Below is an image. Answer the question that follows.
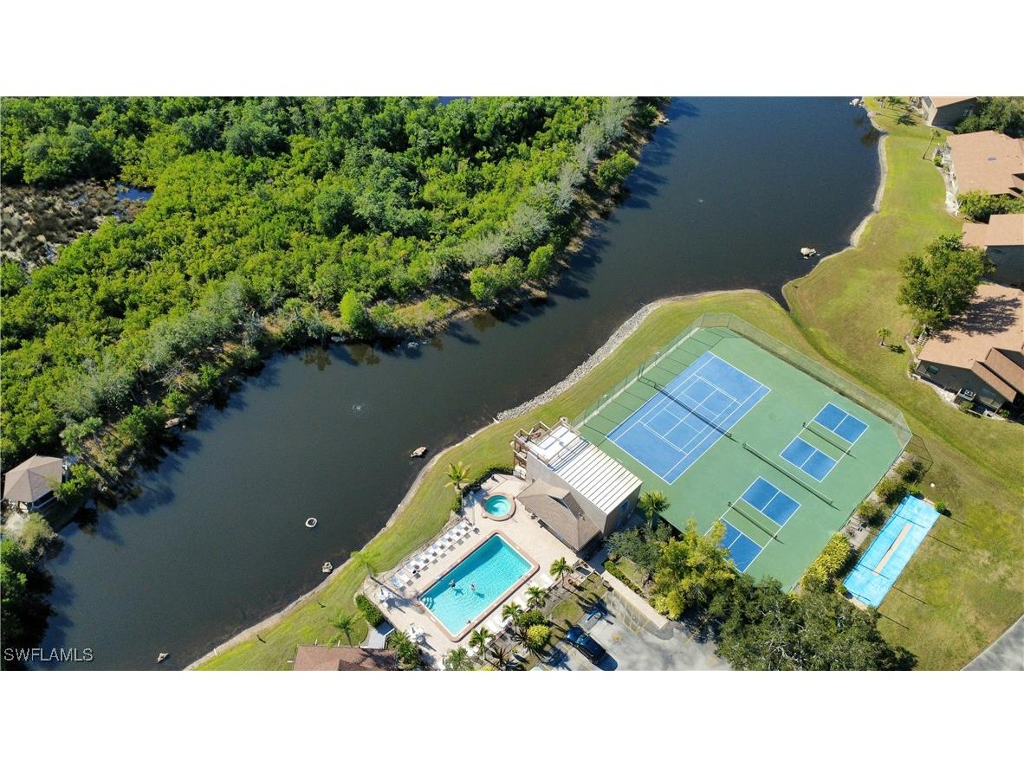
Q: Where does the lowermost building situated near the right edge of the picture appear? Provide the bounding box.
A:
[914,282,1024,418]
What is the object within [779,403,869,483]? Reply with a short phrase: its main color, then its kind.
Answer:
blue sports court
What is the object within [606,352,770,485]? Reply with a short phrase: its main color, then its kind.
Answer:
blue tennis court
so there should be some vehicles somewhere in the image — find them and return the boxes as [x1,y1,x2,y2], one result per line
[565,627,607,667]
